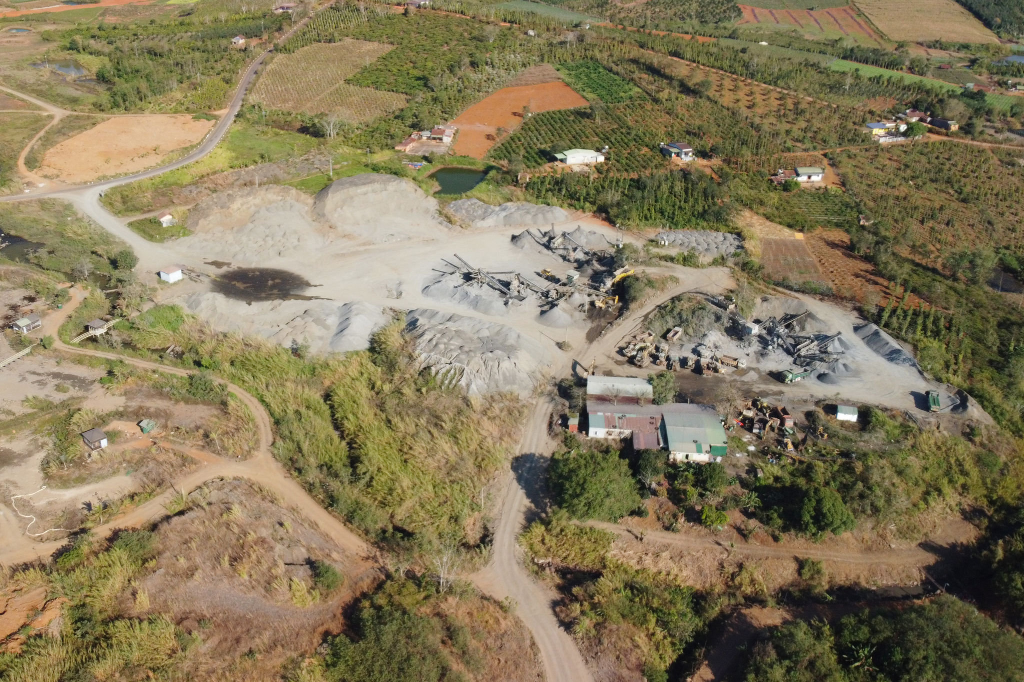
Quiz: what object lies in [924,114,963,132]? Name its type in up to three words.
barn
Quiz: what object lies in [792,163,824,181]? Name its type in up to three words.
house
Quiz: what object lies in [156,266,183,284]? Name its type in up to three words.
shed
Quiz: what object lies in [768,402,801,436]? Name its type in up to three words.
truck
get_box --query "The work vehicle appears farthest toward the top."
[533,265,559,281]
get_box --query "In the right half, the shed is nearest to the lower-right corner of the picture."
[833,398,861,419]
